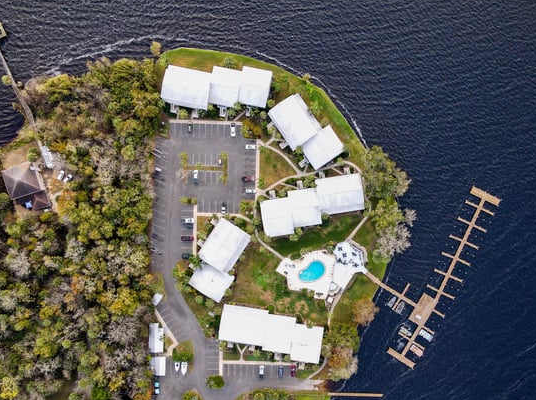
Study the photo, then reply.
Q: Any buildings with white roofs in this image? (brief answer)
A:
Yes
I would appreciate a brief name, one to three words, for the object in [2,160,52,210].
house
